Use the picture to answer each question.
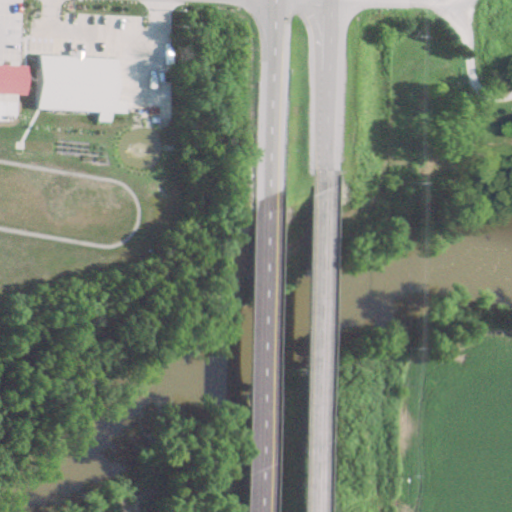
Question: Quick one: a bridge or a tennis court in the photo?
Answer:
bridge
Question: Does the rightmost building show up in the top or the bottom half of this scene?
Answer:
top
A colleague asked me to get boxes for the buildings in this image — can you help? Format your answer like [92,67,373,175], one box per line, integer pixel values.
[0,96,20,122]
[0,66,31,95]
[38,56,127,122]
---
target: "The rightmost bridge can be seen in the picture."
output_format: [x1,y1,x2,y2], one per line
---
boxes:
[308,174,341,512]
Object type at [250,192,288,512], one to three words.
bridge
